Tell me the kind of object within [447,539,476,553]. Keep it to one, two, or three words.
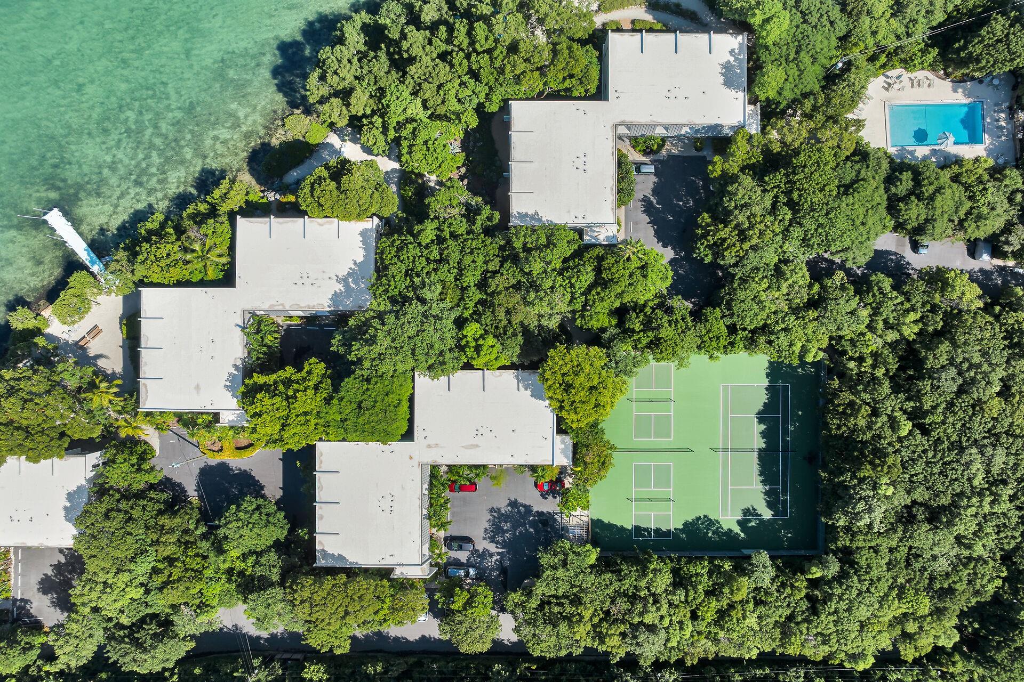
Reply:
car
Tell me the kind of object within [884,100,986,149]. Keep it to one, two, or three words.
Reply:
swimming pool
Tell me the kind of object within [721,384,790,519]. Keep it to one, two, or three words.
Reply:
tennis court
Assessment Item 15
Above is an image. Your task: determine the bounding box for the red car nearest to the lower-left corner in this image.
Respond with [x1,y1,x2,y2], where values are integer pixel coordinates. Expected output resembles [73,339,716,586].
[448,482,478,496]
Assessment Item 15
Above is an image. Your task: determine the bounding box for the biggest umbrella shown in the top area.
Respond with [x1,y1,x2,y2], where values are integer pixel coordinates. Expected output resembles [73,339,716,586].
[935,130,954,147]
